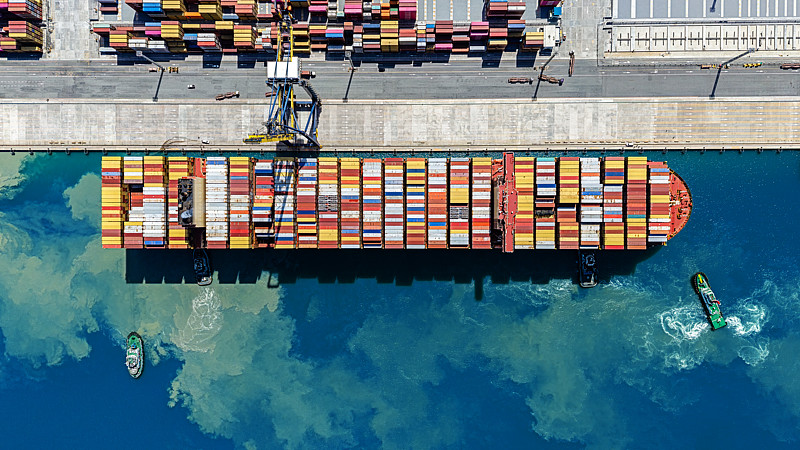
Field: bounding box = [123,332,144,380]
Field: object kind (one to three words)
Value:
boat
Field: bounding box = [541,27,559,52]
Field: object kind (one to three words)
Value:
shed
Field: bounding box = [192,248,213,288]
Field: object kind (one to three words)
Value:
boat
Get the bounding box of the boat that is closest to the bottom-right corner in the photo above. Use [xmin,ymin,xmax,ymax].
[695,271,728,332]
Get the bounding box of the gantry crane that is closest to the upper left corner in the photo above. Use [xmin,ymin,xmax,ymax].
[235,11,321,148]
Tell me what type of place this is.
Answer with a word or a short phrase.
port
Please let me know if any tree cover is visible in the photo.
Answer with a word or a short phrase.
No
